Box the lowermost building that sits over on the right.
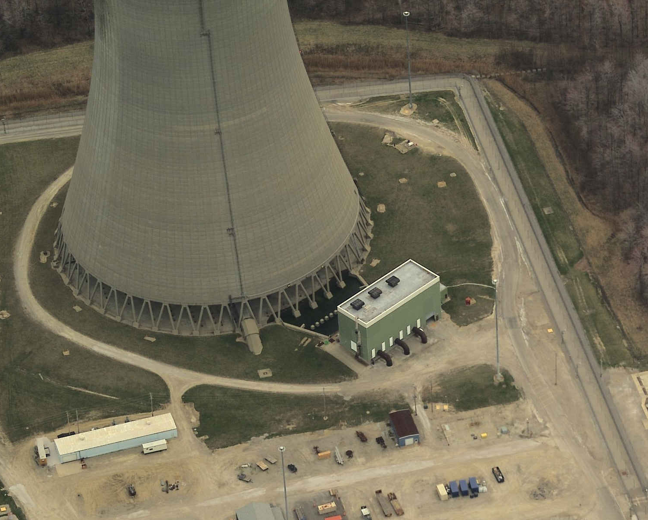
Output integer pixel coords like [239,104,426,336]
[388,408,419,447]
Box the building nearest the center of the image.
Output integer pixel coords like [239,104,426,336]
[336,259,446,365]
